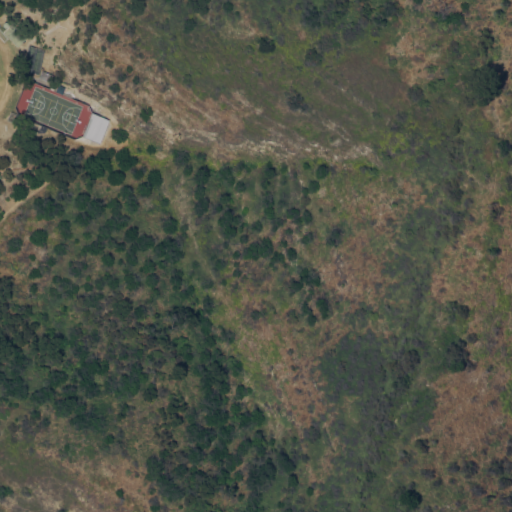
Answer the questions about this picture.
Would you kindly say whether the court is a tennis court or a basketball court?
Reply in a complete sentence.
In the photo, the court shows up as a basketball court.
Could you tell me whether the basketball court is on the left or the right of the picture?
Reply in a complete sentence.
You can find the basketball court on the left side of the picture.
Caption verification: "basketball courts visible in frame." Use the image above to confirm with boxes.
[17,82,92,138]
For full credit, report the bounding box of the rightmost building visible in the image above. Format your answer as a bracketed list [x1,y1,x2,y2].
[83,114,110,143]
